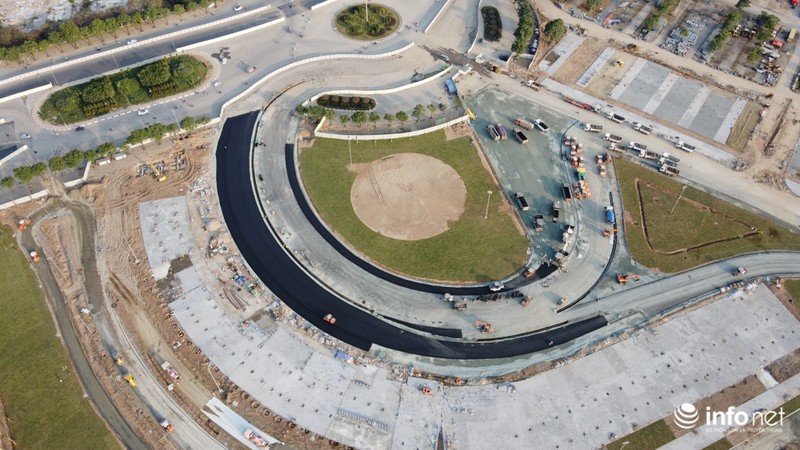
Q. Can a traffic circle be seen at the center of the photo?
No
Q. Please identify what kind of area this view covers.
sports ground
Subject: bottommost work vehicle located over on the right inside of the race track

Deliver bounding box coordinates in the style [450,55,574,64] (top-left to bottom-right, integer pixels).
[473,318,495,334]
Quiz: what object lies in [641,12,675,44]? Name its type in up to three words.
shed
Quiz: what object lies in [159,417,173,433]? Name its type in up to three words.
work vehicle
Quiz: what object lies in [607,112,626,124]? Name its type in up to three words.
vehicle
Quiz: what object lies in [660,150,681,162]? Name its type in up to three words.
vehicle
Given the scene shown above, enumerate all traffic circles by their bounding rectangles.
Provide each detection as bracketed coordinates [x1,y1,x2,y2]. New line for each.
[334,2,401,40]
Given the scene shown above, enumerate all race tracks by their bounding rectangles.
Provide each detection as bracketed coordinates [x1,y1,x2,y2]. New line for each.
[212,44,800,378]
